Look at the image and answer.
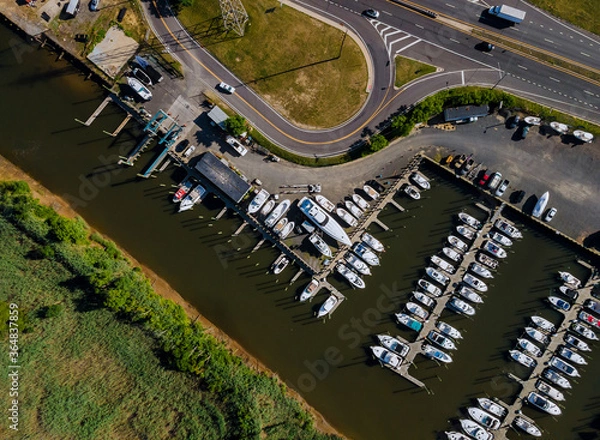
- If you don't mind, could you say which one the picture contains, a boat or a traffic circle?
boat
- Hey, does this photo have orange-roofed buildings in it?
No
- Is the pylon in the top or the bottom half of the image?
top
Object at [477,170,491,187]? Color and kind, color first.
red vehicle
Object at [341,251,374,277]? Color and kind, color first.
white boat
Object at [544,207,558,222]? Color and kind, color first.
white car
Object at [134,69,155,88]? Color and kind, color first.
black boat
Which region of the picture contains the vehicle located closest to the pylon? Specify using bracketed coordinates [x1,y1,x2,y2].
[220,82,236,94]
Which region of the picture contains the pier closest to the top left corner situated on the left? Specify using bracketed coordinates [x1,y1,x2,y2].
[74,90,146,137]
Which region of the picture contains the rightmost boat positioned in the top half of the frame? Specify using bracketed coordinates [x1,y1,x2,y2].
[568,131,596,144]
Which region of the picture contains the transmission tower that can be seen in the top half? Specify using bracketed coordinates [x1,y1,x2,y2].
[217,0,250,37]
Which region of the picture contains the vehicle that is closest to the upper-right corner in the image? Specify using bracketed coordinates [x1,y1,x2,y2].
[487,5,527,24]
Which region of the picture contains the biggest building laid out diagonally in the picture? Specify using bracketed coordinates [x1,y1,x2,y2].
[195,150,251,203]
